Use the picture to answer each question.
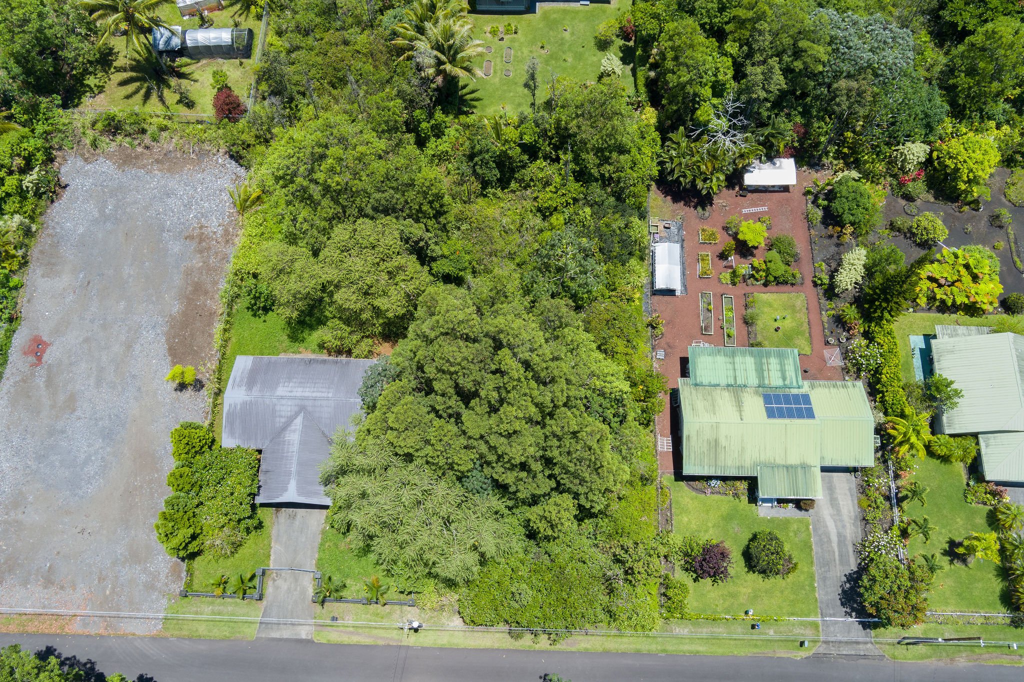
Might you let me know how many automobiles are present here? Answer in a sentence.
There are no automobiles in the image.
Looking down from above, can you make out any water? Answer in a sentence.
No, the picture contains no water.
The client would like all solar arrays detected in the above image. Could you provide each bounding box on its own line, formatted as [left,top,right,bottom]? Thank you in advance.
[762,392,816,418]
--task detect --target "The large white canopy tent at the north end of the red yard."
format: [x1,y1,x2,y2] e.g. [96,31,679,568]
[738,159,797,195]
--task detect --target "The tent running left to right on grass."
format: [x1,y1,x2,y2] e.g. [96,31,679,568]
[179,30,259,62]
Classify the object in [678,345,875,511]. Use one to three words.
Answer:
house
